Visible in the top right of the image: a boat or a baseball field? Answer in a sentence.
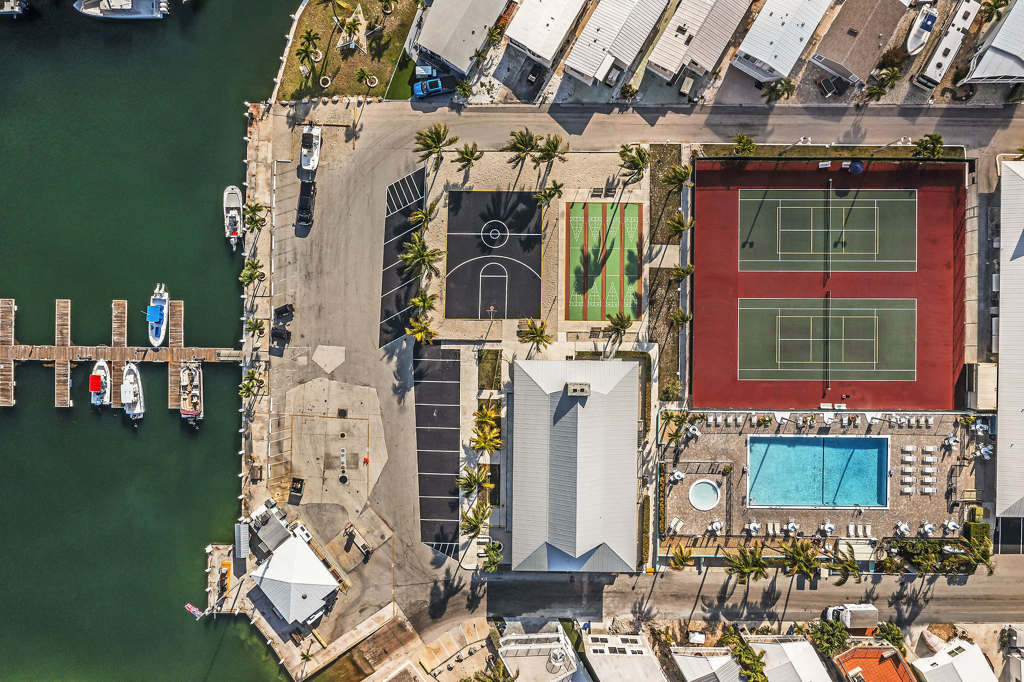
Looking in the top right of the image, you will find a boat.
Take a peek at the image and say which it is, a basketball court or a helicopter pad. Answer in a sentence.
Visible in the photo is a basketball court.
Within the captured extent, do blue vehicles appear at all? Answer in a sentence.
Yes, there's a blue vehicle here.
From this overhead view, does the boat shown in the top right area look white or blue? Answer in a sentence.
The boat shown in the top right area is white.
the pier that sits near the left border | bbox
[0,298,235,409]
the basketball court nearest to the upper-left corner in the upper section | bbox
[444,190,543,321]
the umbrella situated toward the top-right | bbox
[854,155,872,170]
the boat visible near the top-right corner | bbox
[908,0,943,58]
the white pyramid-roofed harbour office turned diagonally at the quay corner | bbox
[250,497,352,625]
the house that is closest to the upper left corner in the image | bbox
[418,0,509,78]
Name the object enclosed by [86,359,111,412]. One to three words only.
boat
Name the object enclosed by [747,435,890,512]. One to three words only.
swimming pool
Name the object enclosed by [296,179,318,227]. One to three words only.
truck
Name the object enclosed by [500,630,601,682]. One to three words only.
house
